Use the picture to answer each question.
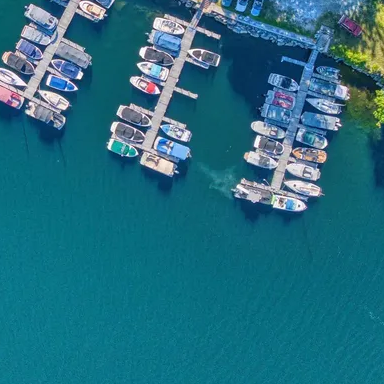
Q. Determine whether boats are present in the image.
Yes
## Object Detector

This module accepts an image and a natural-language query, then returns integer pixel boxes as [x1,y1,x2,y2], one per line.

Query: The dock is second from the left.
[111,6,221,163]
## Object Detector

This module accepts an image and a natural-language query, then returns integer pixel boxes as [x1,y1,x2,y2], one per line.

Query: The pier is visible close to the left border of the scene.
[0,0,97,113]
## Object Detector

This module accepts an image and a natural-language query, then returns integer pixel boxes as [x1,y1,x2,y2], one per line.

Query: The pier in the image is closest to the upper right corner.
[239,46,342,202]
